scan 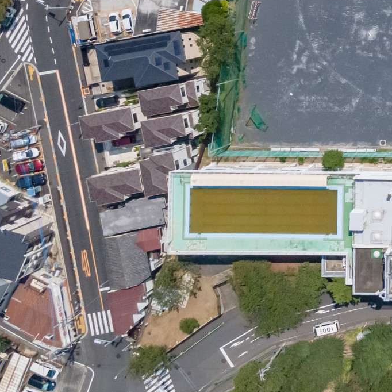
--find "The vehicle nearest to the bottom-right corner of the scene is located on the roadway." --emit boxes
[313,319,341,335]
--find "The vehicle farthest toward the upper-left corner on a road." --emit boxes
[0,8,19,32]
